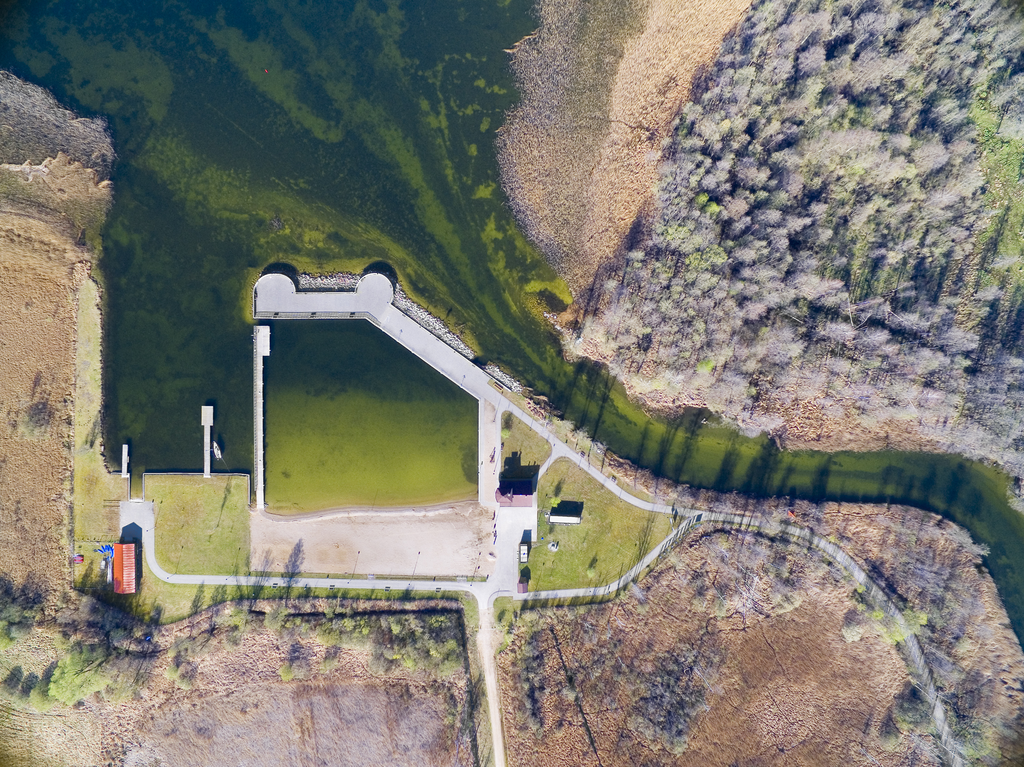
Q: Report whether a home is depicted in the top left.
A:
No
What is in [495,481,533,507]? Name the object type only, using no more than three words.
house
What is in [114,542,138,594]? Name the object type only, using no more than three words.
shed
